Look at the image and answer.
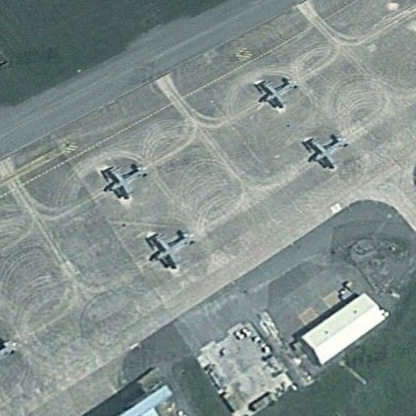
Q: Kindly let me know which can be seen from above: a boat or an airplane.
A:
airplane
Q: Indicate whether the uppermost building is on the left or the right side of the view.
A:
right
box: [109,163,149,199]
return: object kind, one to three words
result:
airplane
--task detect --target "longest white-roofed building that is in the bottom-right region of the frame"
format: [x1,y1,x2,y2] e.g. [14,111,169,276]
[303,293,389,365]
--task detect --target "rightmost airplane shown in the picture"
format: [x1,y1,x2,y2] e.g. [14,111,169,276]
[309,133,351,169]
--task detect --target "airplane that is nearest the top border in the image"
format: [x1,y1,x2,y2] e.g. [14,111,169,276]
[258,75,301,112]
